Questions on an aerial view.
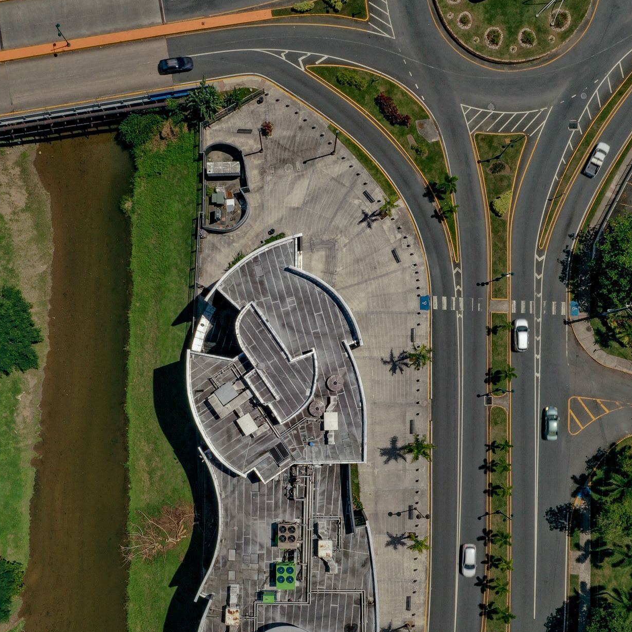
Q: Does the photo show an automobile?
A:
Yes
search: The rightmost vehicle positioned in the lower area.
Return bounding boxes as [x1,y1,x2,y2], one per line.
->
[543,407,560,440]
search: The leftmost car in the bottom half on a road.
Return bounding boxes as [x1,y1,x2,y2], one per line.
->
[461,543,477,576]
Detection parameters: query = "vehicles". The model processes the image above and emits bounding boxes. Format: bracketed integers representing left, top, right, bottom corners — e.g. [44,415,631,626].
[543,407,560,440]
[581,141,609,182]
[461,543,477,576]
[512,320,530,352]
[158,57,195,78]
